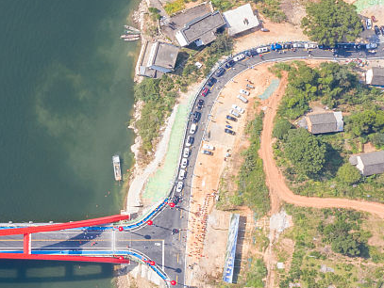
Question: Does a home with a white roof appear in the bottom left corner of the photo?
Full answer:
No, I can find no home with a white roof in the bottom left corner of the photo.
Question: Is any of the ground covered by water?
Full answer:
Yes, there is water in the image.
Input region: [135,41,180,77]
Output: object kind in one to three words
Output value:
house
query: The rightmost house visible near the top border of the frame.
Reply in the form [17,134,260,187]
[221,2,259,34]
